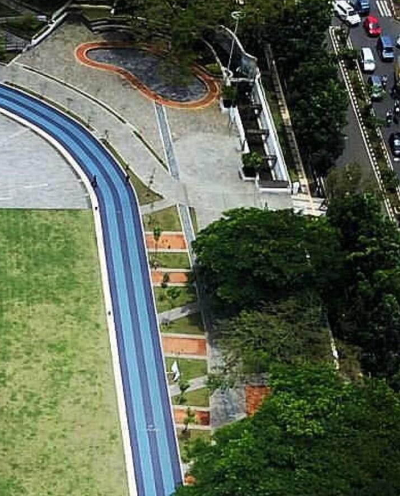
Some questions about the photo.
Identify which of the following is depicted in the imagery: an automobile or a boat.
automobile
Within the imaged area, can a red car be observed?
Yes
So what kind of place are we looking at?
sports ground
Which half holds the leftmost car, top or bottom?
top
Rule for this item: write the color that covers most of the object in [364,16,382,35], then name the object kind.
red car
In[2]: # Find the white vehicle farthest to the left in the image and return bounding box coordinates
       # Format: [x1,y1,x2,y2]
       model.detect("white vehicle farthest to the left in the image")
[334,1,361,25]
